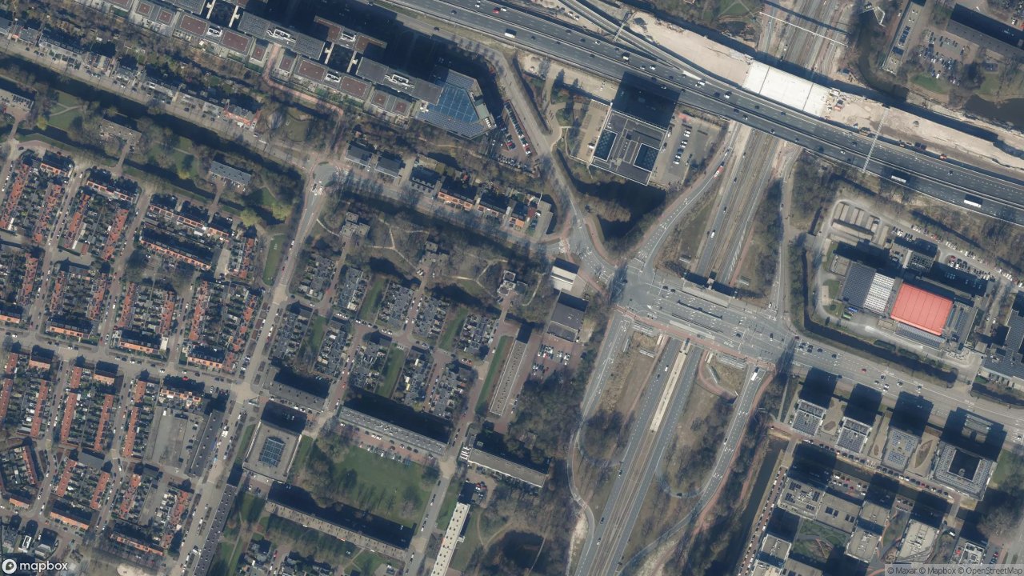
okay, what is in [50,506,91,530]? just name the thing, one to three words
building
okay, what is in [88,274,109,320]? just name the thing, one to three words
building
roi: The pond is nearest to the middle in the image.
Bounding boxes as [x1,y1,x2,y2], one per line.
[555,149,666,241]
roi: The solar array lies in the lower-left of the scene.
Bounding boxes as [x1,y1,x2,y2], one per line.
[260,437,285,465]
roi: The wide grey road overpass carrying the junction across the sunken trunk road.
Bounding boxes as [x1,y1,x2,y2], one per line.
[655,275,740,354]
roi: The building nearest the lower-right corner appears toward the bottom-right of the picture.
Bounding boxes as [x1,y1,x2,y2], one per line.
[947,538,986,573]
